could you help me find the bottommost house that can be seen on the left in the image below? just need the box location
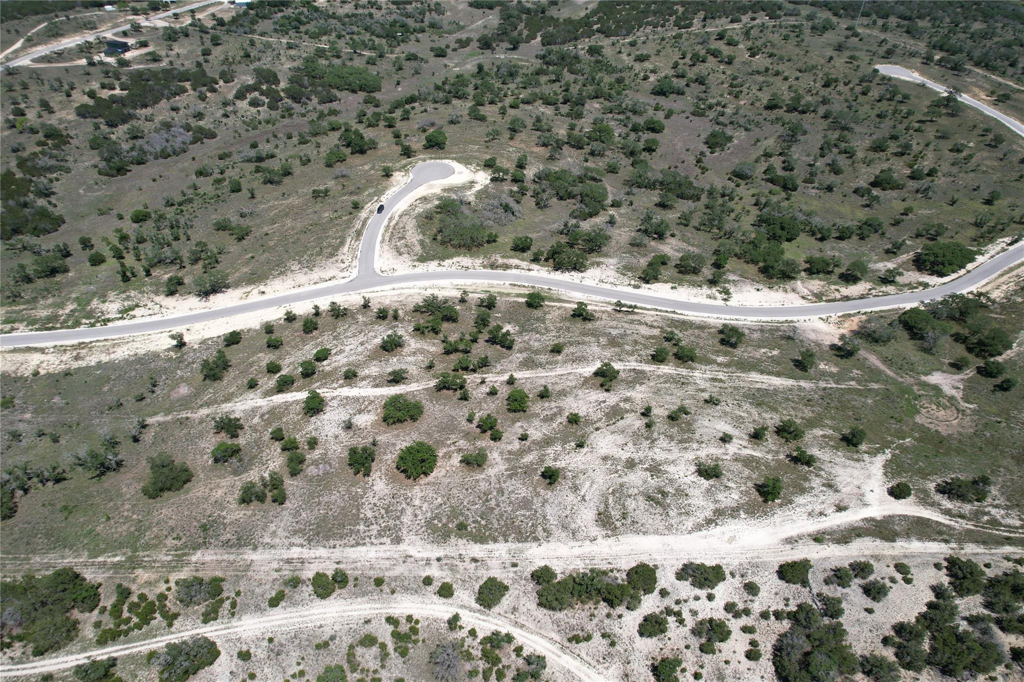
[96,36,133,52]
